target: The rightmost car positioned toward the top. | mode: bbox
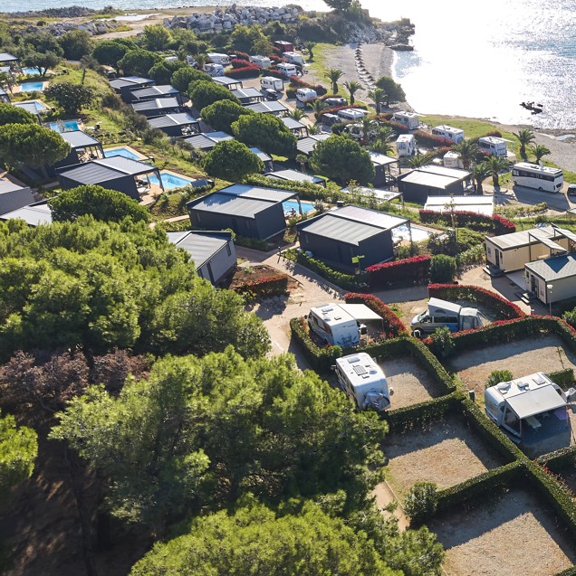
[557,180,576,196]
